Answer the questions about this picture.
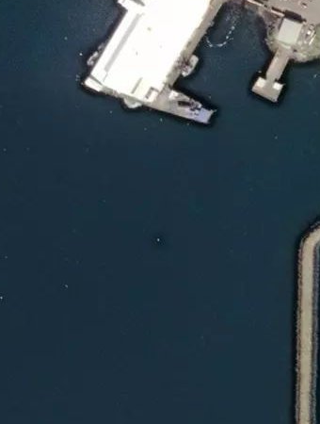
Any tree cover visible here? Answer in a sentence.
No, no tree cover is visible.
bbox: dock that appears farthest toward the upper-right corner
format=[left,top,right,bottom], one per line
[266,46,289,81]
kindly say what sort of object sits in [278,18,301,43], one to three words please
house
